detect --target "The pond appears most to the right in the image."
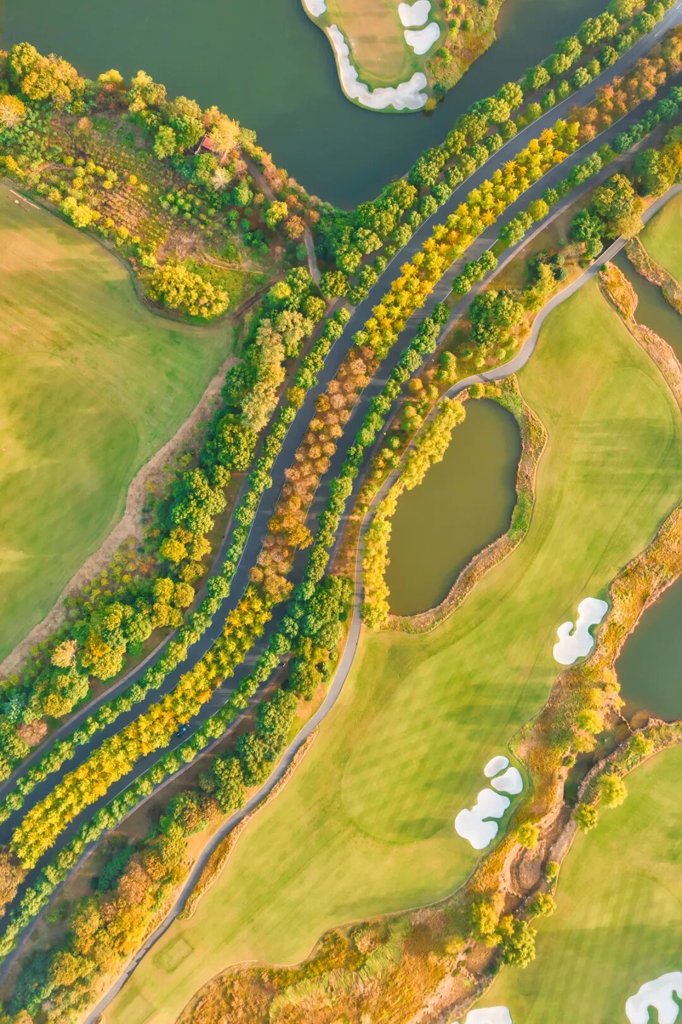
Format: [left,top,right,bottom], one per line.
[615,576,682,734]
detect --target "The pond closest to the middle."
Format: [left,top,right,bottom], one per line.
[382,401,521,615]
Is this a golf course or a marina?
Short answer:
golf course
